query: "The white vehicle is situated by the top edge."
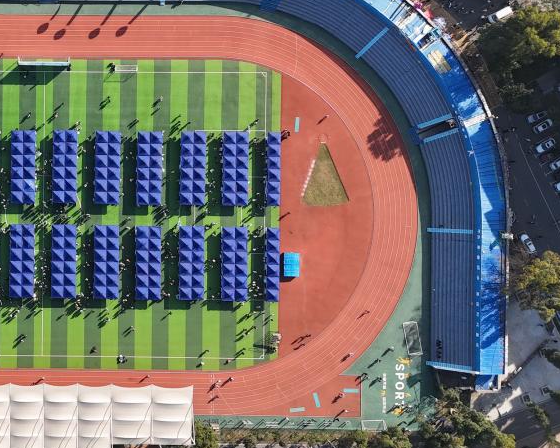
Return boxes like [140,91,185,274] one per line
[485,4,515,23]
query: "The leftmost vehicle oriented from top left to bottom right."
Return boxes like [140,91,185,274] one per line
[518,234,535,252]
